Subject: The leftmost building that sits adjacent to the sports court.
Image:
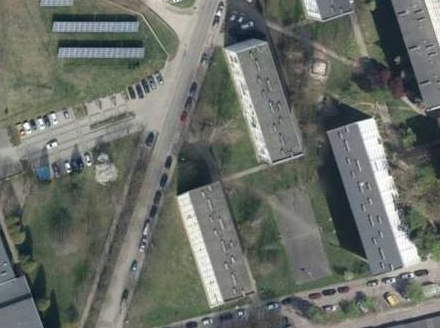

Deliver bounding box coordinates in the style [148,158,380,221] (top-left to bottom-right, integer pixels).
[178,182,255,302]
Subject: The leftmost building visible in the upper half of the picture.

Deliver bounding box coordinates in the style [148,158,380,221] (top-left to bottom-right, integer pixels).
[224,42,303,163]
